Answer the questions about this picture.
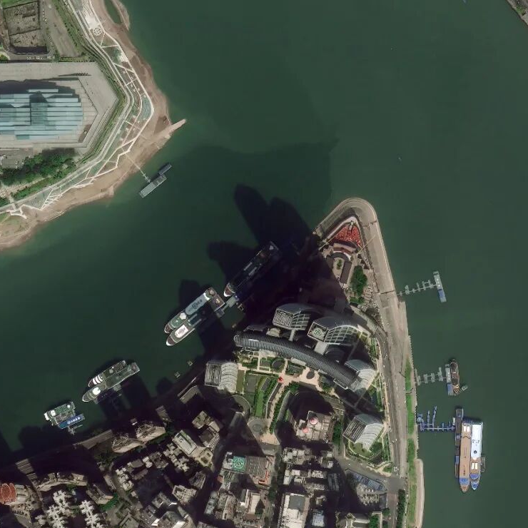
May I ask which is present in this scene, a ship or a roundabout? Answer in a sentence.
There is a ship in the scene.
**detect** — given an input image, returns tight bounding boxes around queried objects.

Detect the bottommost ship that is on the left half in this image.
[44,403,76,421]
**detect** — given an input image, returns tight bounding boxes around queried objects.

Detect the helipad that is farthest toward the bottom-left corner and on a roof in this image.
[233,457,245,469]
